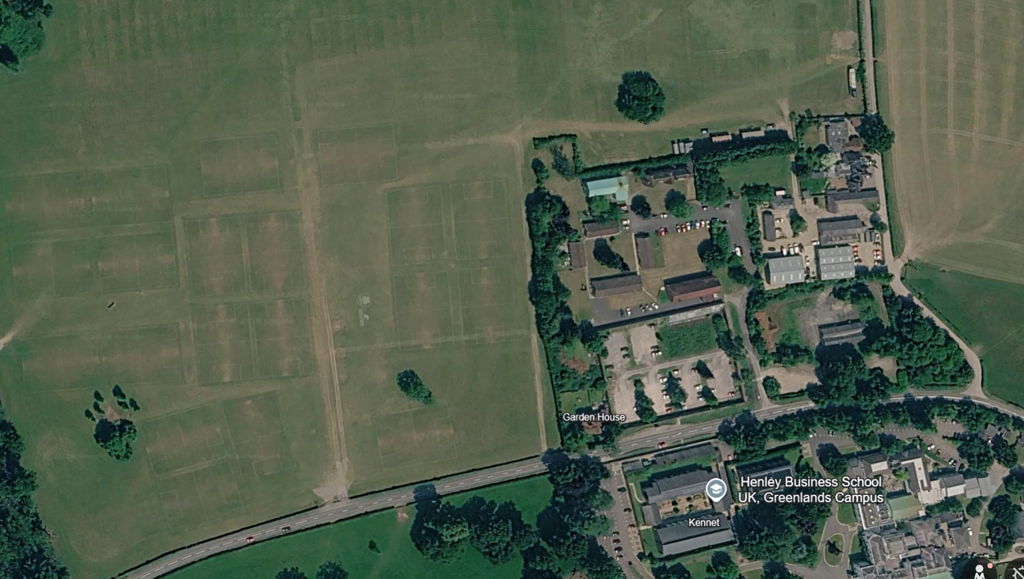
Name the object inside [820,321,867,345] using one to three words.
barn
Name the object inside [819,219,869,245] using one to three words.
barn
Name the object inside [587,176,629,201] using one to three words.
building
